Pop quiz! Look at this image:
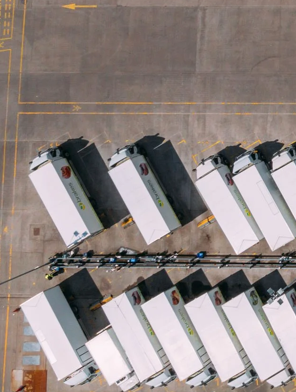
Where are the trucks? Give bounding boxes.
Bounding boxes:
[184,285,259,392]
[266,140,296,218]
[261,285,296,375]
[28,141,107,247]
[221,284,296,392]
[106,139,184,245]
[85,321,150,392]
[20,283,103,390]
[141,283,219,391]
[229,144,296,252]
[191,148,265,255]
[101,284,179,392]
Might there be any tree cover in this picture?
No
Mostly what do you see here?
paved ground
